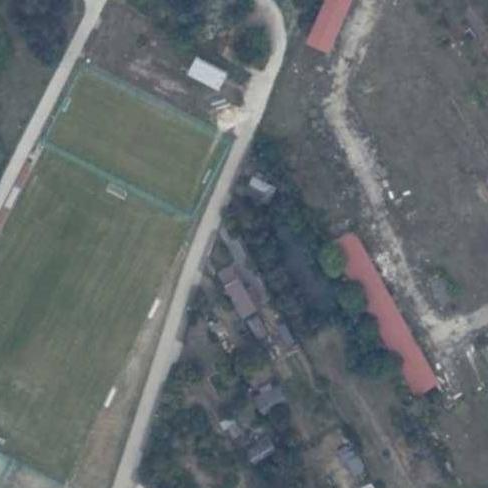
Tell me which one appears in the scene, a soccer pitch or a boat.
soccer pitch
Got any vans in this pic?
No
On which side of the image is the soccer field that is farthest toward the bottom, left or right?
left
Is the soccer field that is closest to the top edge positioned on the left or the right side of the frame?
left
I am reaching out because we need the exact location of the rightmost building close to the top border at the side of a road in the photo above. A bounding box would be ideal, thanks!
[306,0,351,54]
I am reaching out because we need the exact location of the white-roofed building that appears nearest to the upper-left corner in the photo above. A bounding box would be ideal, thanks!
[188,56,227,91]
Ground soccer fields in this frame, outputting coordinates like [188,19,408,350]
[0,150,192,486]
[47,68,224,214]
